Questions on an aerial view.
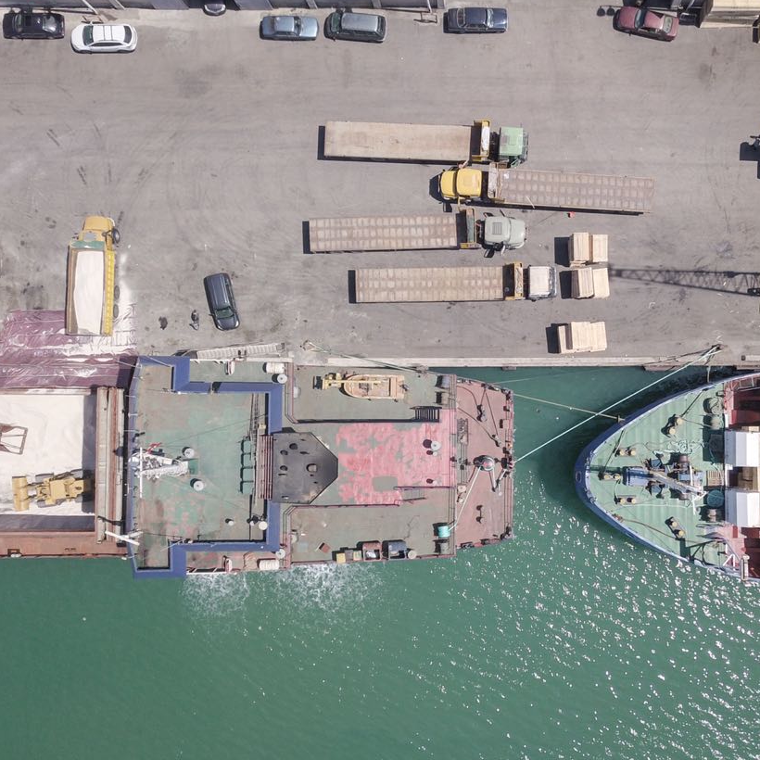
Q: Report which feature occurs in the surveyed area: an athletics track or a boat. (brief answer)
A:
boat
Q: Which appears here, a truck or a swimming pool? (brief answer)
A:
truck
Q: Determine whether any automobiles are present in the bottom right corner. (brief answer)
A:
No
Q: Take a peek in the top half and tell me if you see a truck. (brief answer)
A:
Yes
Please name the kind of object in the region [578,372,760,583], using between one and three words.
ship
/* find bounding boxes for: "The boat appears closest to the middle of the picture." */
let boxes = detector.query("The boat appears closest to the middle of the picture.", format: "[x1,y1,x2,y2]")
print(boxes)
[341,373,407,399]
